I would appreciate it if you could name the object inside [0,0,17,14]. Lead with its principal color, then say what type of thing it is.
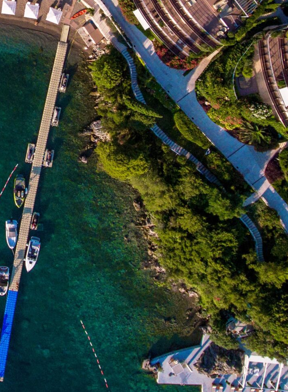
white umbrella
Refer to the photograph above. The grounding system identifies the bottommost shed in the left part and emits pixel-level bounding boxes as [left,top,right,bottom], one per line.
[76,23,103,48]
